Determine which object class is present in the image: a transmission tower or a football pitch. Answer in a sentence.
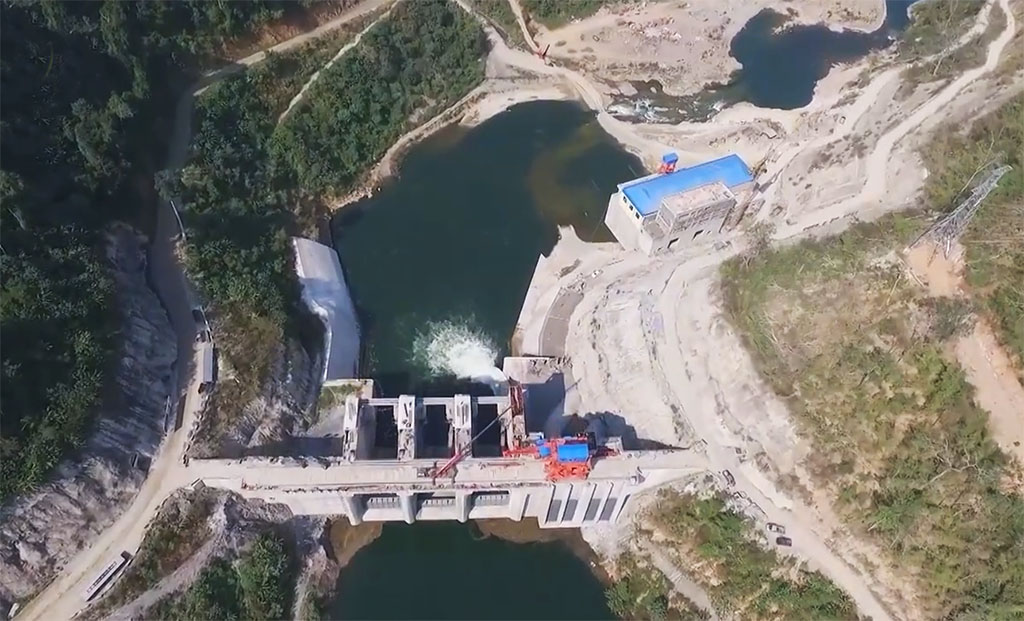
Of the two, only a transmission tower appears.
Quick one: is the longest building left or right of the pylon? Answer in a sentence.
The longest building is to the left of the pylon.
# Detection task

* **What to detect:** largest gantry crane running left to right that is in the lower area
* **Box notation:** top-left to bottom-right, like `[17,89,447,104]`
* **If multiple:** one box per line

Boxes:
[516,439,618,483]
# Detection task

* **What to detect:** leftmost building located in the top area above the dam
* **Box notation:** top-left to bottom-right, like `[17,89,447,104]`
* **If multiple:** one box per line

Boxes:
[603,150,758,260]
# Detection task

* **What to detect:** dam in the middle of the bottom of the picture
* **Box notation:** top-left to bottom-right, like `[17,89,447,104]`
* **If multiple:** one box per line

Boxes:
[187,378,703,530]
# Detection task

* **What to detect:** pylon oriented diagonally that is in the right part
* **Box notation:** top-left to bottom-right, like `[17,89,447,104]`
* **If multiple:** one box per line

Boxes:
[910,161,1011,265]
